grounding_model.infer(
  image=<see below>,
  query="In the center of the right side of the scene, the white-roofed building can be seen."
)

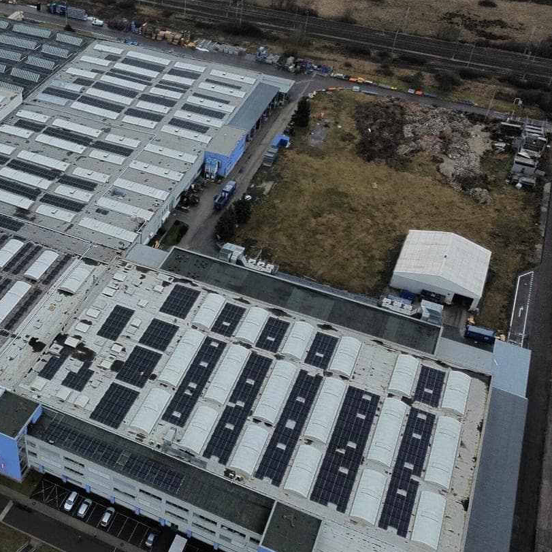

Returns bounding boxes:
[391,231,490,312]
